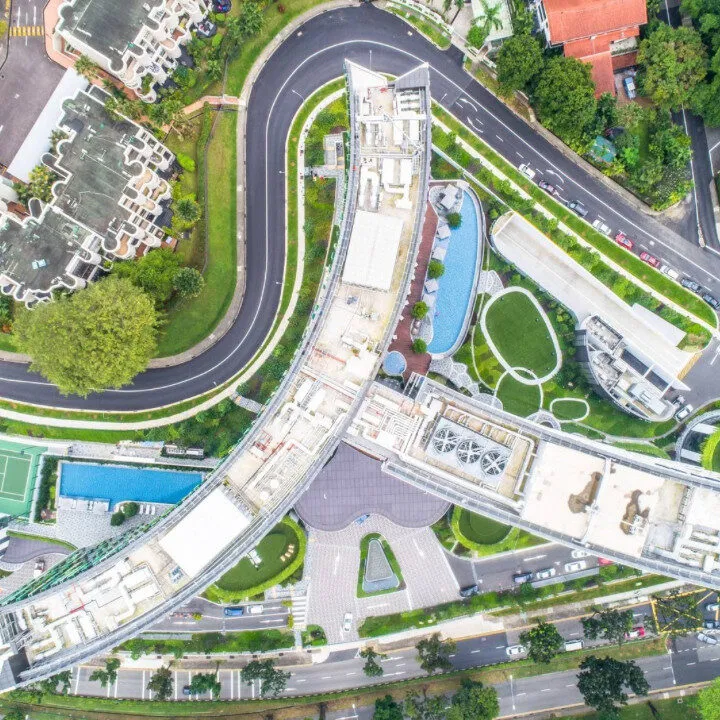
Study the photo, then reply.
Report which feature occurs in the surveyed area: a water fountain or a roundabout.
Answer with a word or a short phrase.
water fountain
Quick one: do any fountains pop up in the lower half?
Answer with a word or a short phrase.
Yes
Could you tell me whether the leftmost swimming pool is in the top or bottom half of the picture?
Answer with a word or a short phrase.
bottom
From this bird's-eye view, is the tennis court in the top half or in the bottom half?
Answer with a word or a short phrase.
bottom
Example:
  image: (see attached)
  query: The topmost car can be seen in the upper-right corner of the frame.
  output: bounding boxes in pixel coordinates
[622,77,636,98]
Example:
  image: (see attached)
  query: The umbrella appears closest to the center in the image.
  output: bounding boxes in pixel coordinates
[424,278,439,294]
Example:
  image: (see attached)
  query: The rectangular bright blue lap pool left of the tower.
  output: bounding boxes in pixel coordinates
[56,461,205,522]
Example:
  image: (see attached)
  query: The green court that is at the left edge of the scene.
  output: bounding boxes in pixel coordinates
[0,440,46,521]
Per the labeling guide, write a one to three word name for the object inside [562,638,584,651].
vehicle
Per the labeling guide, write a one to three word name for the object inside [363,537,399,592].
fountain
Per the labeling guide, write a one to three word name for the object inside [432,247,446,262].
umbrella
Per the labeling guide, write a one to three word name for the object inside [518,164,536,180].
car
